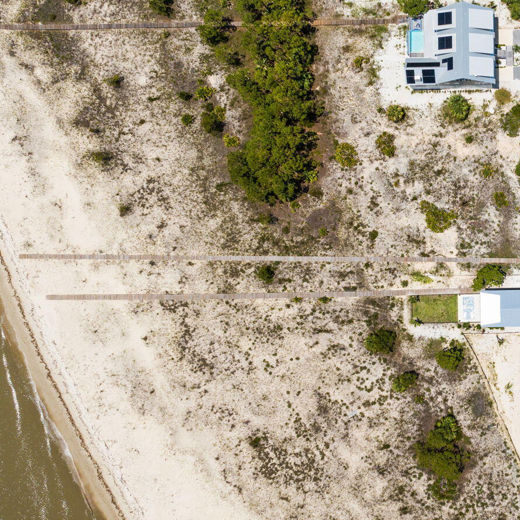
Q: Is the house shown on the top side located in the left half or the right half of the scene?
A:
right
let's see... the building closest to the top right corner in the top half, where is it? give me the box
[404,2,513,88]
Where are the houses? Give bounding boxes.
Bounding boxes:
[404,2,513,88]
[458,291,520,327]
